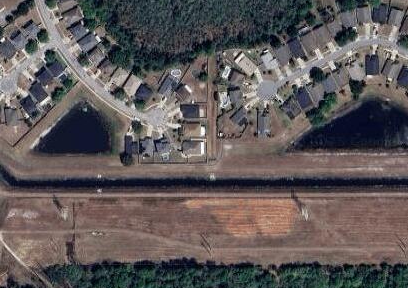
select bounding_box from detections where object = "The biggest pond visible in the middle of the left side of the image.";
[34,102,110,154]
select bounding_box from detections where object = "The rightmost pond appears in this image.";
[289,98,408,151]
